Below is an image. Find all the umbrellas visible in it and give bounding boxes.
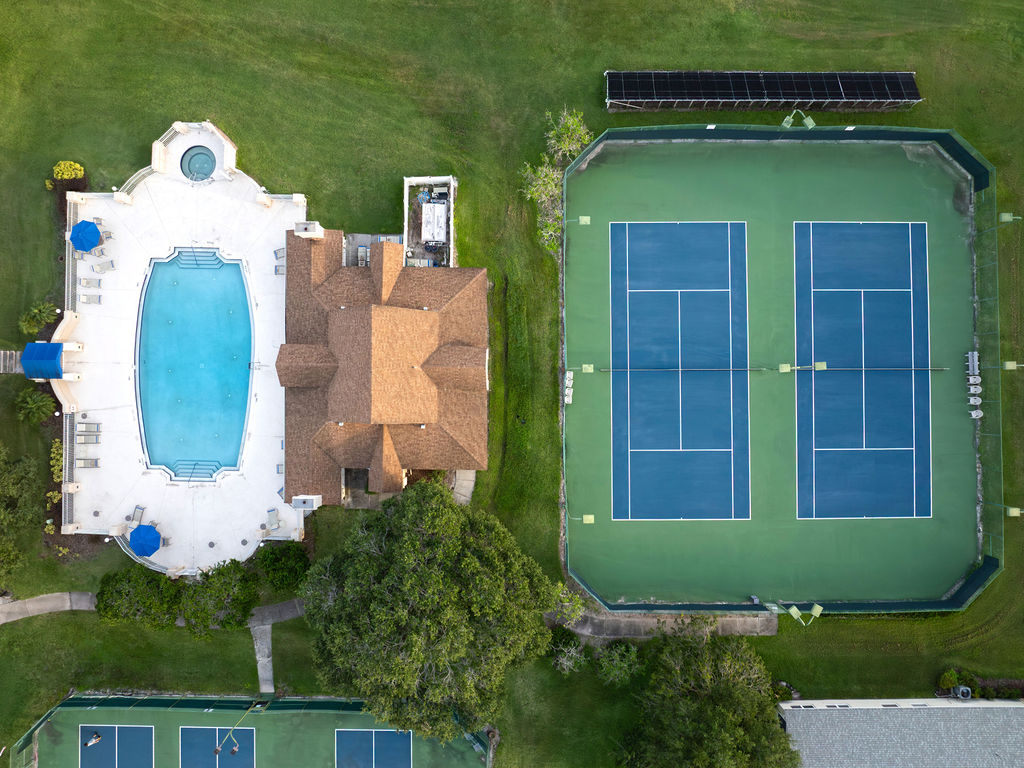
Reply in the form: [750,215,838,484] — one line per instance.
[68,219,106,253]
[129,524,164,556]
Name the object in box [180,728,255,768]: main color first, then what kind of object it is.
blue sports court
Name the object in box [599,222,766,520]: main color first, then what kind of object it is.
blue tennis court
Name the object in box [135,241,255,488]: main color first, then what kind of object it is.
blue swimming pool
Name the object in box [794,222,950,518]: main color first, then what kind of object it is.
blue tennis court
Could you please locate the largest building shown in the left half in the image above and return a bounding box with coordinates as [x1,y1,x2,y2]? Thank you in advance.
[276,221,489,509]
